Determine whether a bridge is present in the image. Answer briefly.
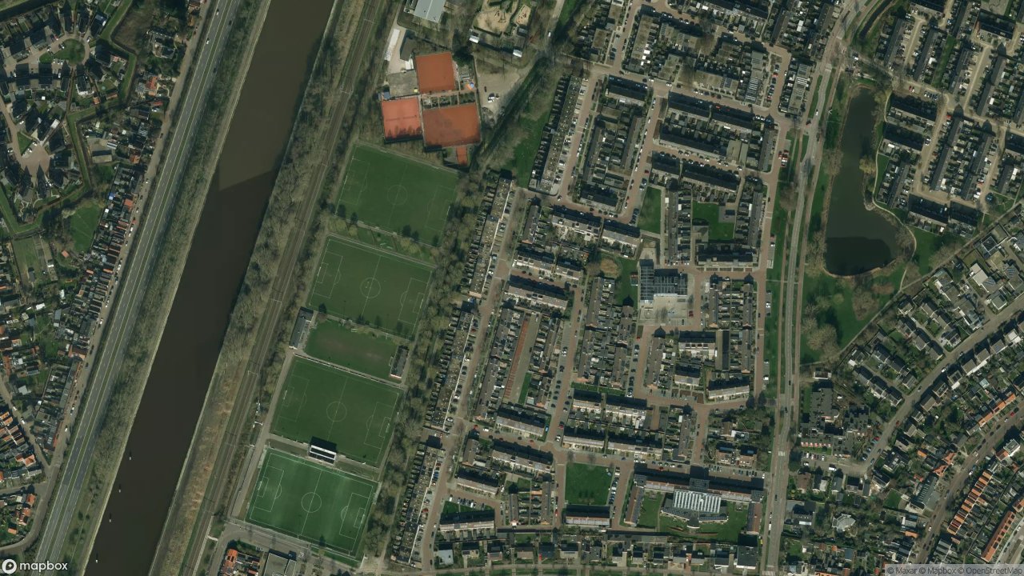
No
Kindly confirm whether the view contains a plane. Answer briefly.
No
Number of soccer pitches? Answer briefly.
5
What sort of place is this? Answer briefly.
residential area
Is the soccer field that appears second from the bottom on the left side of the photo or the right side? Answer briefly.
left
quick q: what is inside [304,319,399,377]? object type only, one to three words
soccer field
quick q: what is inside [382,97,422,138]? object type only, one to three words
tennis court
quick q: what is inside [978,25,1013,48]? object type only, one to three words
house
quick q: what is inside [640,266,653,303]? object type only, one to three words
building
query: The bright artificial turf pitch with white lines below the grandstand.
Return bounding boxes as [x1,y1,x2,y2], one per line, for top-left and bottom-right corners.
[244,447,379,555]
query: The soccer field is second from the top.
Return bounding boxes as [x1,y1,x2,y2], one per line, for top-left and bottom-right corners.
[307,238,434,335]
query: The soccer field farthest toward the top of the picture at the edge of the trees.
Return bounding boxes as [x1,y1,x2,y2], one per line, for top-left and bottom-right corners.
[334,143,459,248]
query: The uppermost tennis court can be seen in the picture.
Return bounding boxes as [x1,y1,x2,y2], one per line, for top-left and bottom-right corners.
[415,52,454,93]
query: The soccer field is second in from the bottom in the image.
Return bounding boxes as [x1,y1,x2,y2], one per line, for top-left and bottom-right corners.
[273,359,401,465]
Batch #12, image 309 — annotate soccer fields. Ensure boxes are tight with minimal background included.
[304,319,399,377]
[307,238,434,335]
[273,359,401,465]
[334,143,459,248]
[244,447,379,555]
